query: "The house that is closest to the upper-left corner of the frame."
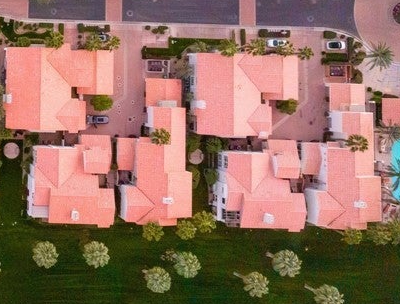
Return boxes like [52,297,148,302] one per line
[5,44,111,129]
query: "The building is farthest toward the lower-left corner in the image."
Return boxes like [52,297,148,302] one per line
[26,138,112,226]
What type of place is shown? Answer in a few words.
residential area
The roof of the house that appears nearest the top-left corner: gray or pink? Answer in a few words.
pink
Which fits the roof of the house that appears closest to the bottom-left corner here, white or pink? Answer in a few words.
pink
